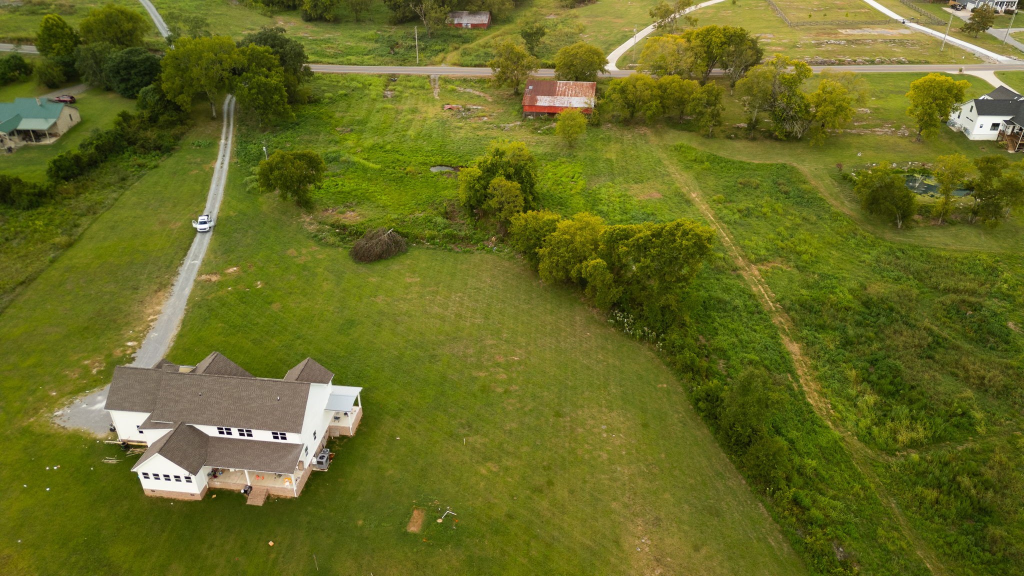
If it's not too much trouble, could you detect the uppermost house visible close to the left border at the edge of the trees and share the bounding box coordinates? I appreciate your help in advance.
[0,97,80,146]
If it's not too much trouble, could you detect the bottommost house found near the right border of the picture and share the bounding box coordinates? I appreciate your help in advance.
[955,86,1024,152]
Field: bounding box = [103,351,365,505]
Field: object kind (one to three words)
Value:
house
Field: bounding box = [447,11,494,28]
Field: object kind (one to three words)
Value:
shed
